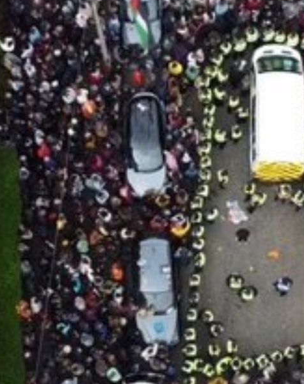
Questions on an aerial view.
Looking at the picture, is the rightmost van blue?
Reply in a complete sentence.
No, the rightmost van is actually white.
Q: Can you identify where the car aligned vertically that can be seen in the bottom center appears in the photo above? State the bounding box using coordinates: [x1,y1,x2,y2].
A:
[133,237,184,346]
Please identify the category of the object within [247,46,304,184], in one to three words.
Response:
van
